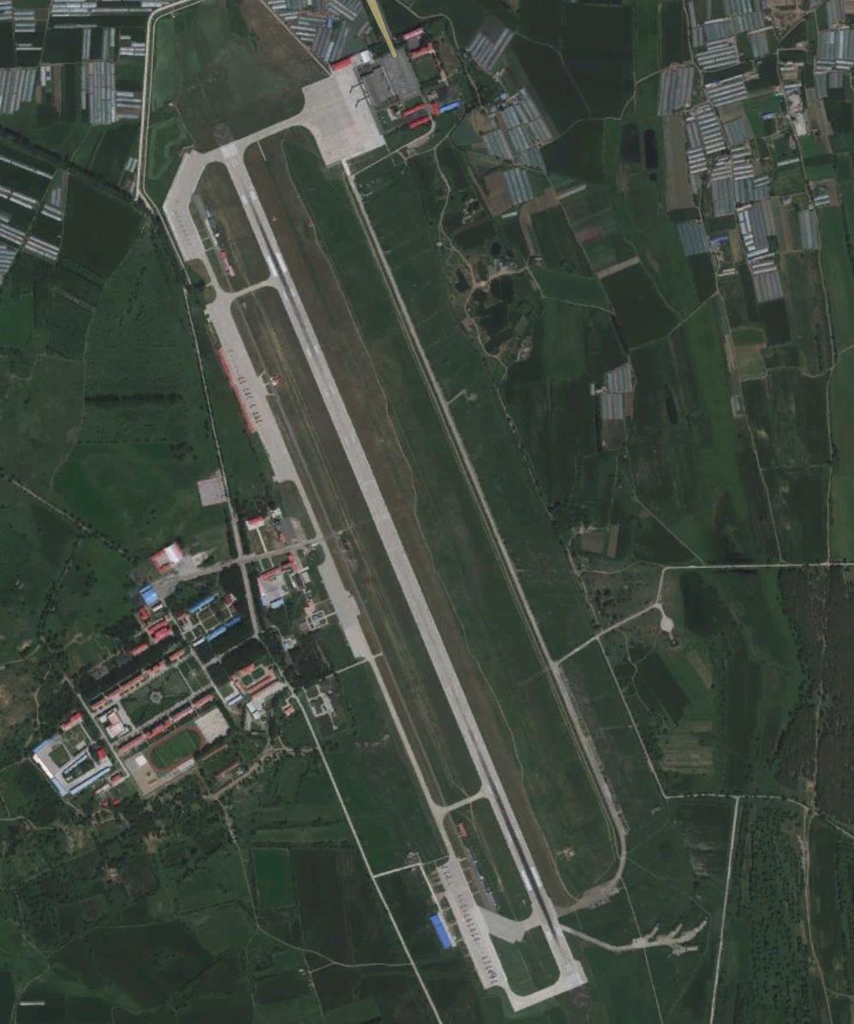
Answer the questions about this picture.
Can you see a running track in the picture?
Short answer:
Yes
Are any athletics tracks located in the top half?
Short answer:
No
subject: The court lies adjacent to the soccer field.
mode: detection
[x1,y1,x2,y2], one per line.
[132,762,159,794]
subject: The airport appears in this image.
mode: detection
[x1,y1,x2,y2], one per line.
[164,68,588,1011]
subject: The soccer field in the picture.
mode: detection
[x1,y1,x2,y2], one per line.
[152,729,202,767]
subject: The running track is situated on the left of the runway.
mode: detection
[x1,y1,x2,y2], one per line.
[147,725,206,772]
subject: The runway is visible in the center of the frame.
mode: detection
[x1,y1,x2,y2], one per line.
[220,141,582,984]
